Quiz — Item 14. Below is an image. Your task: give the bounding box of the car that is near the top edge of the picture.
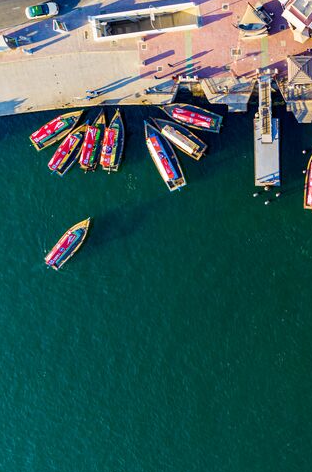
[25,2,59,20]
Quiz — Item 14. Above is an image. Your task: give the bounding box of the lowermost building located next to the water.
[287,53,312,83]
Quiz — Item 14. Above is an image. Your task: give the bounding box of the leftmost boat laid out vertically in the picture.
[81,102,108,171]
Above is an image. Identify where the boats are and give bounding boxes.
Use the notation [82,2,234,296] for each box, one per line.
[81,102,108,171]
[141,105,186,192]
[48,104,91,177]
[306,156,312,210]
[45,216,92,270]
[148,105,208,159]
[102,102,125,171]
[30,104,86,150]
[154,101,224,131]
